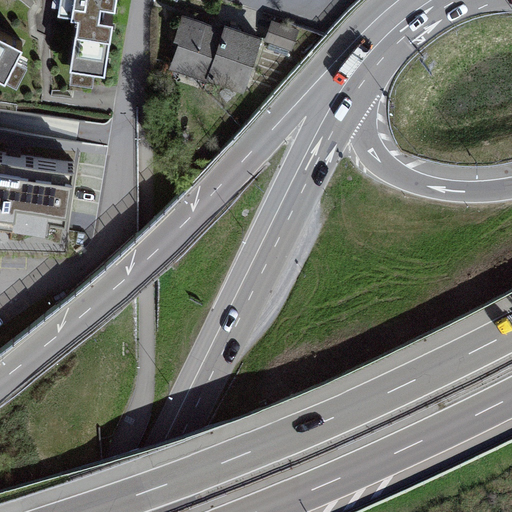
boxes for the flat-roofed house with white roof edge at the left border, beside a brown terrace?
[0,32,29,90]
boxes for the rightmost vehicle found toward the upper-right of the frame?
[445,3,467,20]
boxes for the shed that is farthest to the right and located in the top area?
[264,18,298,51]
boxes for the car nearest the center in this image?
[223,308,239,330]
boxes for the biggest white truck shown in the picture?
[330,40,370,84]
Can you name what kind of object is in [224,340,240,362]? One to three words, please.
car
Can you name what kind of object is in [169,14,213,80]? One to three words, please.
house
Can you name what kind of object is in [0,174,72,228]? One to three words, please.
building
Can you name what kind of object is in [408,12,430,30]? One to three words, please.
car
